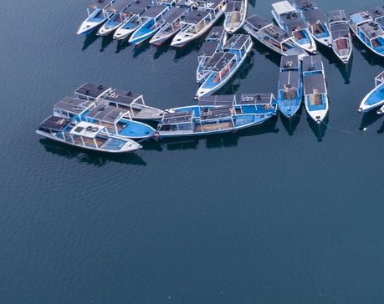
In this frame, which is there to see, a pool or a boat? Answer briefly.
boat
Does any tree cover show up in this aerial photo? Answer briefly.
No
